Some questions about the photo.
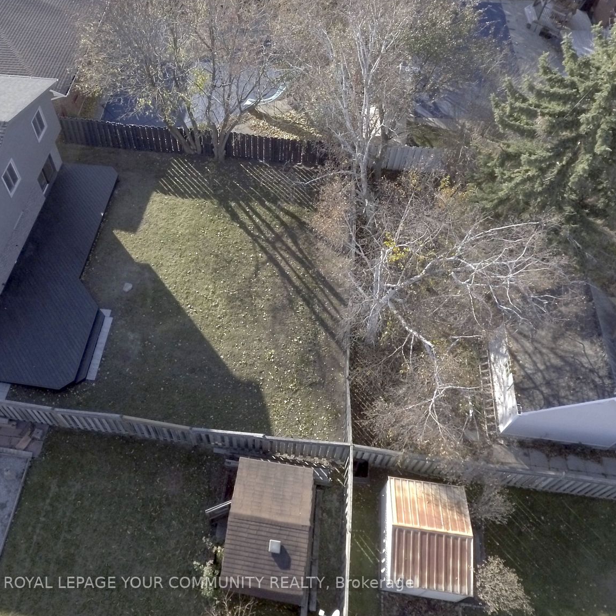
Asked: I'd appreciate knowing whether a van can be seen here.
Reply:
No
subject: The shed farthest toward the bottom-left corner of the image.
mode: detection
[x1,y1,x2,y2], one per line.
[221,457,327,614]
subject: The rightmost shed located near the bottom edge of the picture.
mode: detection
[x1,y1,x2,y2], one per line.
[381,474,475,602]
